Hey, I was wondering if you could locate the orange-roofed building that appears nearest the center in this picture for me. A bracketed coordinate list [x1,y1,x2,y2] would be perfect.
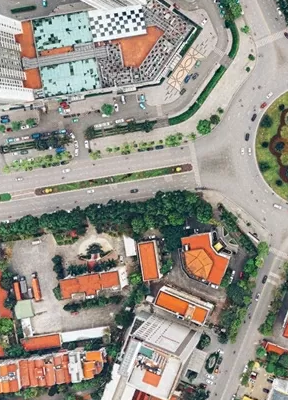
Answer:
[137,238,165,282]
